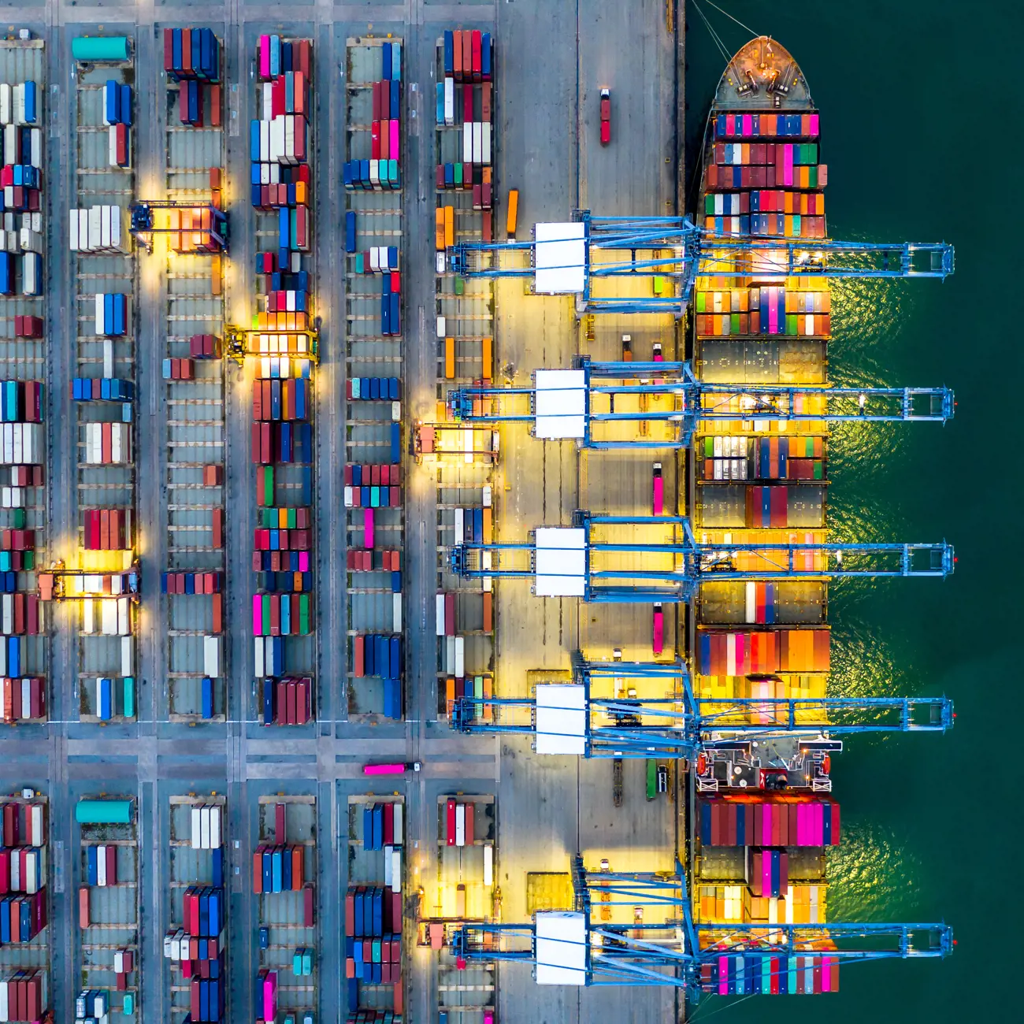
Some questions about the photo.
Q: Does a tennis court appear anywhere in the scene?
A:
No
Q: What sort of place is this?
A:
port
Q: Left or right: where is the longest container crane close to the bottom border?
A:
right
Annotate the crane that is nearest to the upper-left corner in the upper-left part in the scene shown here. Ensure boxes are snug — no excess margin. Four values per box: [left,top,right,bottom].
[123,198,234,257]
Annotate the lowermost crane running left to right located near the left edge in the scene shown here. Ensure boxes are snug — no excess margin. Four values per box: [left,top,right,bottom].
[32,556,146,606]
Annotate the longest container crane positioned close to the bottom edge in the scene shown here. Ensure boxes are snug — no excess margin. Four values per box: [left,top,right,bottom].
[451,847,958,991]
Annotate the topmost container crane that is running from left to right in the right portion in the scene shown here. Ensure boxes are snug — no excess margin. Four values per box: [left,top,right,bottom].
[450,202,961,336]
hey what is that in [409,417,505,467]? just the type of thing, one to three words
crane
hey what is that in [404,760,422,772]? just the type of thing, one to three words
vehicle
